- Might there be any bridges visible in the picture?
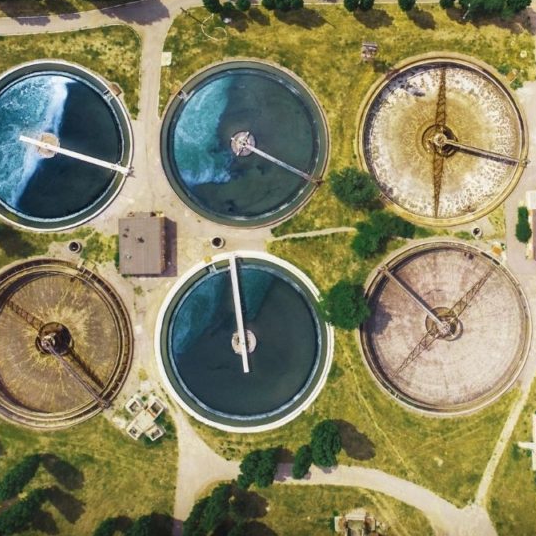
Yes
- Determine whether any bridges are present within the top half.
Yes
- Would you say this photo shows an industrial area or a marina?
industrial area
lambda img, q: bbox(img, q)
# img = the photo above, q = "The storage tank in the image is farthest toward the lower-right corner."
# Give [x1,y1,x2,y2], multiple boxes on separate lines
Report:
[357,240,534,417]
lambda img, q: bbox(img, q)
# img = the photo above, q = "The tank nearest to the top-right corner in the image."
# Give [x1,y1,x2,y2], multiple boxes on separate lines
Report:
[356,52,529,225]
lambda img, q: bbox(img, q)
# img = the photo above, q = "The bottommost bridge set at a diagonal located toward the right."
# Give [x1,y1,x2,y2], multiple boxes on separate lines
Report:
[379,264,447,331]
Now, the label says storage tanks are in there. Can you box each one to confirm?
[0,60,135,231]
[357,240,534,417]
[154,251,335,432]
[0,257,135,429]
[160,59,330,229]
[356,52,529,225]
